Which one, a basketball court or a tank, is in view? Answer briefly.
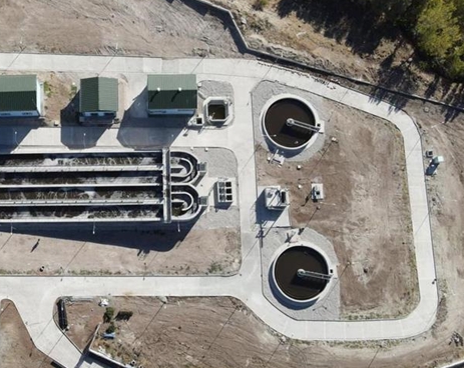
tank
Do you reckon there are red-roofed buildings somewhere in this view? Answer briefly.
No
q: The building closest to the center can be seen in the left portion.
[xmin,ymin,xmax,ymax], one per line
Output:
[148,74,198,114]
